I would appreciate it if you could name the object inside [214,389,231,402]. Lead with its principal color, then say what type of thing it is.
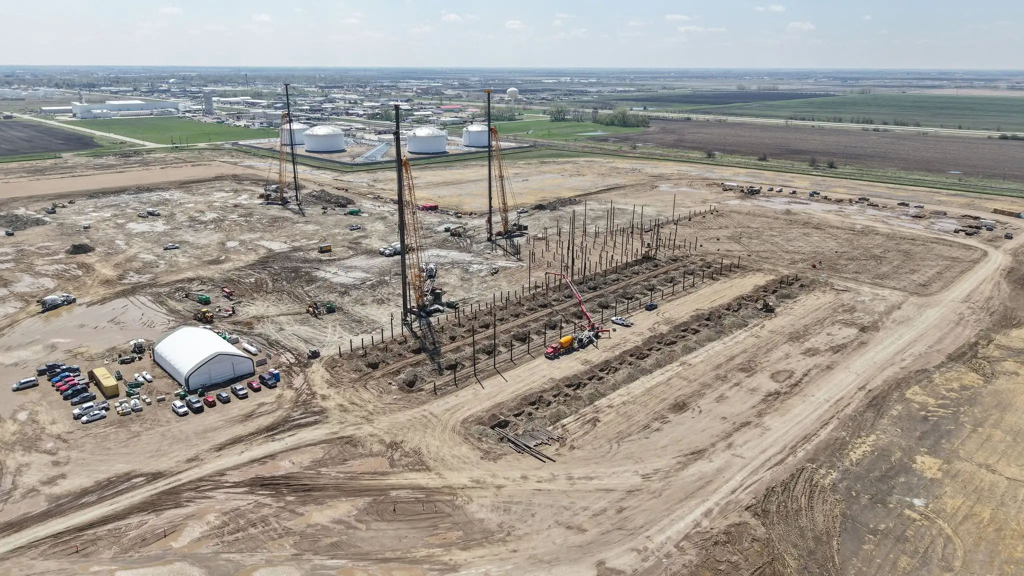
gray vehicle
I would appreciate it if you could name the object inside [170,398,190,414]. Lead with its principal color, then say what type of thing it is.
white car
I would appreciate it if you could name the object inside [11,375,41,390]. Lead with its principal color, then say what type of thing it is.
gray car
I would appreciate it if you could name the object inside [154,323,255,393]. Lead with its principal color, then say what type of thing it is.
white tent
